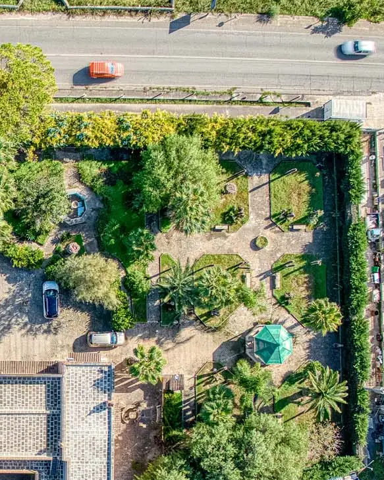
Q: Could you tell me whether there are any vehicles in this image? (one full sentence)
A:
Yes, there is a vehicle in the image.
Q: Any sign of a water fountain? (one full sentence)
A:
Yes, the frame does contain a water fountain.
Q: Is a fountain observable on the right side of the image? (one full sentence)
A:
No, I can find no fountain on the right side of the image.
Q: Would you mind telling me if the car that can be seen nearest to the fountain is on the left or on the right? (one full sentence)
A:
The car that can be seen nearest to the fountain appears in the left half of the scene.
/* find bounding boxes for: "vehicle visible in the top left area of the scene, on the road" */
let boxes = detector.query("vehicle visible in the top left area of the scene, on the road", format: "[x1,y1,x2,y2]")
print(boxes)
[86,60,122,82]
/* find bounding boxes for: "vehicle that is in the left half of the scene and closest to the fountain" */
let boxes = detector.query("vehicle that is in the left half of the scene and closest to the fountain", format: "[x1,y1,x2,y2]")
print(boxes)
[41,281,60,318]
